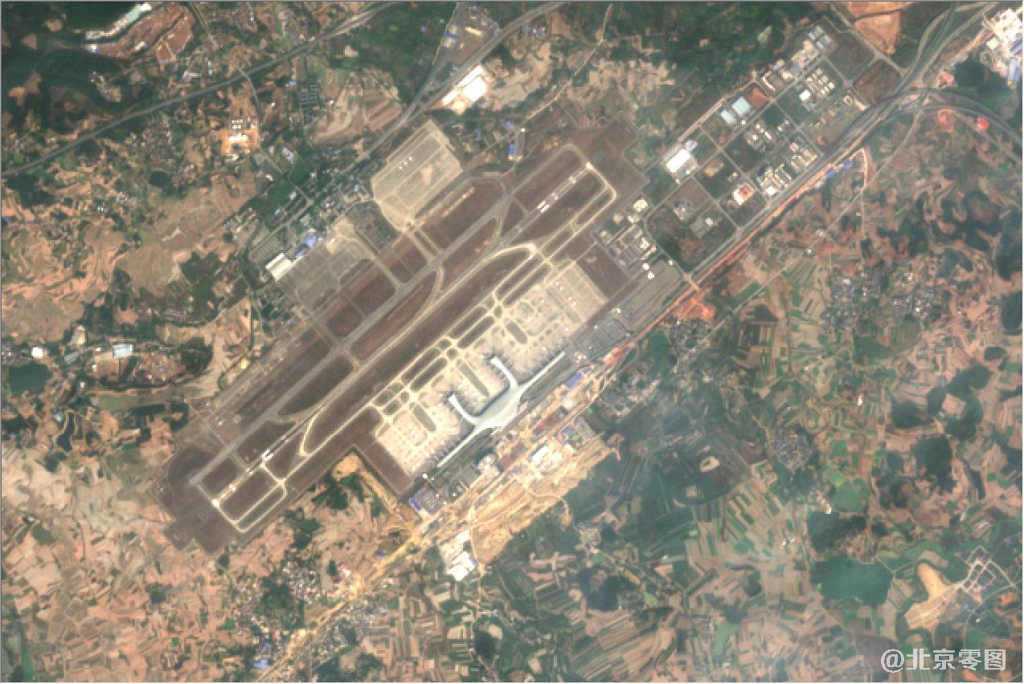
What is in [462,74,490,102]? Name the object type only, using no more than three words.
building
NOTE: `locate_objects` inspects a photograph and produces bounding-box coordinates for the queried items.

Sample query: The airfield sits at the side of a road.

[157,106,649,555]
